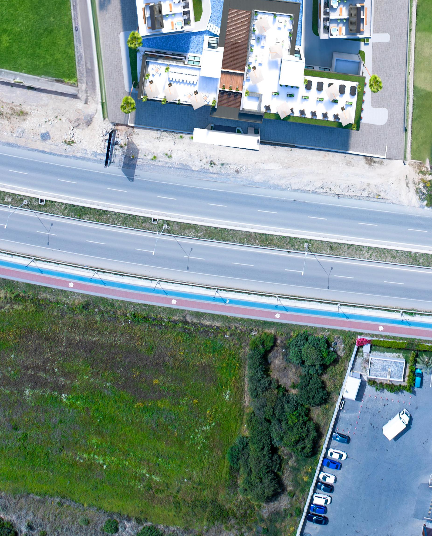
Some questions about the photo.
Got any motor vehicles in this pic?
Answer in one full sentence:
Yes, a motor vehicle is visible in the scene.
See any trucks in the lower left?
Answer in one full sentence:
No, there is no truck in the lower left.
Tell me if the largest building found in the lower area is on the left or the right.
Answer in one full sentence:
You can find the largest building found in the lower area on the right side of the picture.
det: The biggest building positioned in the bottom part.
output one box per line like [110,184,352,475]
[367,350,406,383]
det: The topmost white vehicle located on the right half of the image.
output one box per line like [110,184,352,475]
[383,413,410,448]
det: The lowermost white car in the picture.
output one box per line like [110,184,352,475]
[312,494,332,508]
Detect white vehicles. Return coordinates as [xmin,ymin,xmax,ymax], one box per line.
[383,413,410,448]
[318,472,337,485]
[327,449,347,463]
[312,494,332,508]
